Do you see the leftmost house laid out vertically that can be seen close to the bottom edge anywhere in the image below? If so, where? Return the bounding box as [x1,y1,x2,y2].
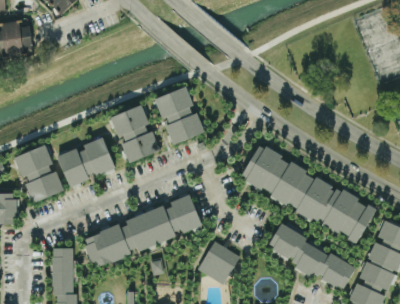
[54,248,74,294]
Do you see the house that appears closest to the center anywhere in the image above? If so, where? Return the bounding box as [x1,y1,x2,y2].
[167,114,204,145]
